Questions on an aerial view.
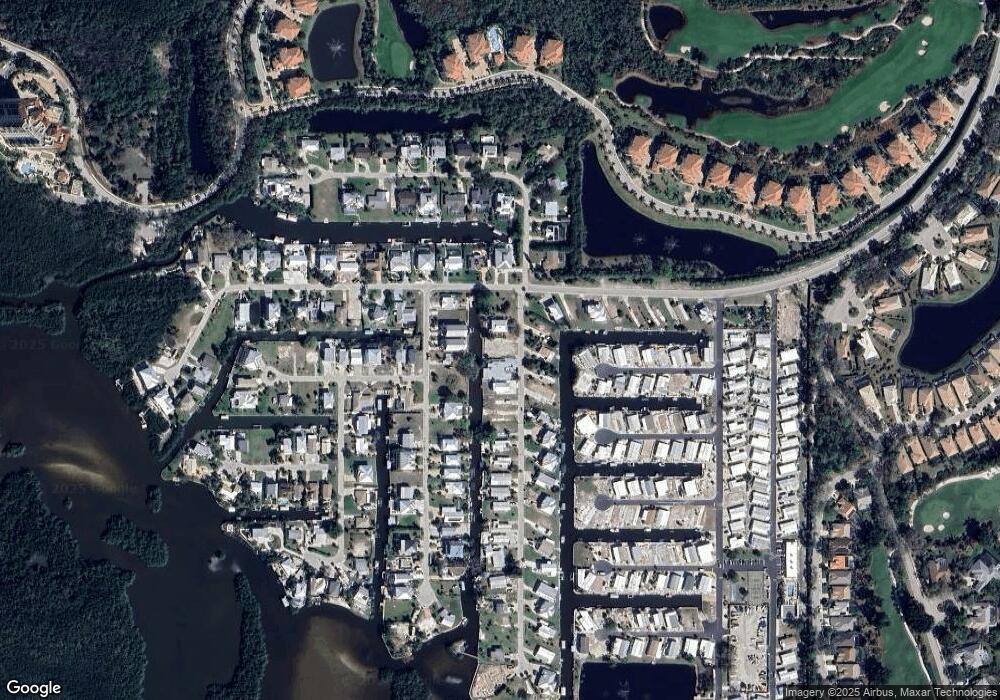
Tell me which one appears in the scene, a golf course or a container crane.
golf course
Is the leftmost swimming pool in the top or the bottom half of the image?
top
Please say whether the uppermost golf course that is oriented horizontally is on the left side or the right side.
right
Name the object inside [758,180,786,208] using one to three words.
house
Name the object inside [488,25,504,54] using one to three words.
swimming pool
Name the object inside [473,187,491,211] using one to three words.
house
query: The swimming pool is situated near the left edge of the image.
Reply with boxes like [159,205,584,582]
[18,157,60,180]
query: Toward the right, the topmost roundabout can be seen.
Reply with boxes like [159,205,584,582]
[916,215,953,257]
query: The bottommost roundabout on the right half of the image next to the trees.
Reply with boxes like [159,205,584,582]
[823,282,867,324]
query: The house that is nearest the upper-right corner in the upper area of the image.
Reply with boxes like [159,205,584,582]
[928,95,959,124]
